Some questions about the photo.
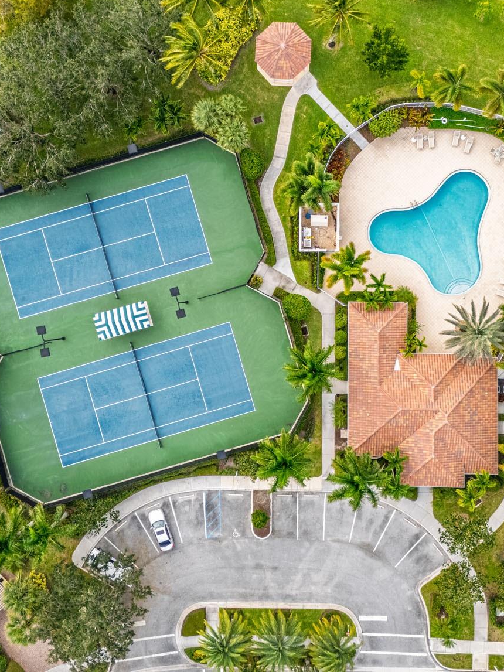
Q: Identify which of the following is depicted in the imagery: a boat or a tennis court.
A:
tennis court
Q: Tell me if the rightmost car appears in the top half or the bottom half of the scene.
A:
bottom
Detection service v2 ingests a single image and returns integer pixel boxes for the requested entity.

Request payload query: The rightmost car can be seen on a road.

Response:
[150,509,173,551]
